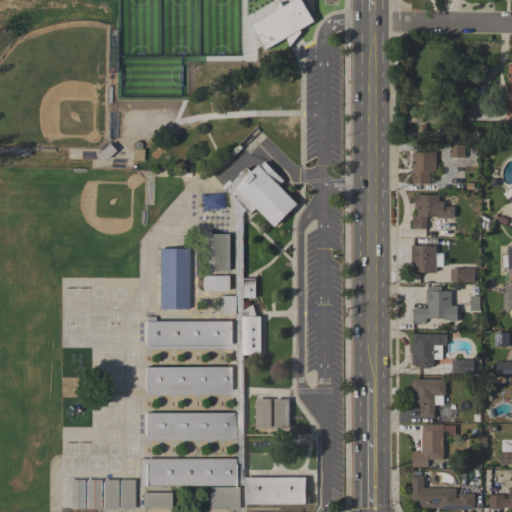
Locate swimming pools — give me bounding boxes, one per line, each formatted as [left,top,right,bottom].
[500,156,512,189]
[447,338,477,360]
[434,471,458,486]
[490,400,512,420]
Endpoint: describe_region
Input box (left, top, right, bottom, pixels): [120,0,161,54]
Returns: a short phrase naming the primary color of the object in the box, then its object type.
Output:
green soccer field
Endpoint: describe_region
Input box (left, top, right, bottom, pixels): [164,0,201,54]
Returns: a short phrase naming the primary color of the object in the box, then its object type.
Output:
green soccer field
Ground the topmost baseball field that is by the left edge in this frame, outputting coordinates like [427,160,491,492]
[0,22,110,147]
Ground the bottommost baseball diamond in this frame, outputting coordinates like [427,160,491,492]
[81,174,145,234]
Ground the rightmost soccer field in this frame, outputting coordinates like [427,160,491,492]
[203,0,242,54]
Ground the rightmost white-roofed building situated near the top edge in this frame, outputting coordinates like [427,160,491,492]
[249,0,314,50]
